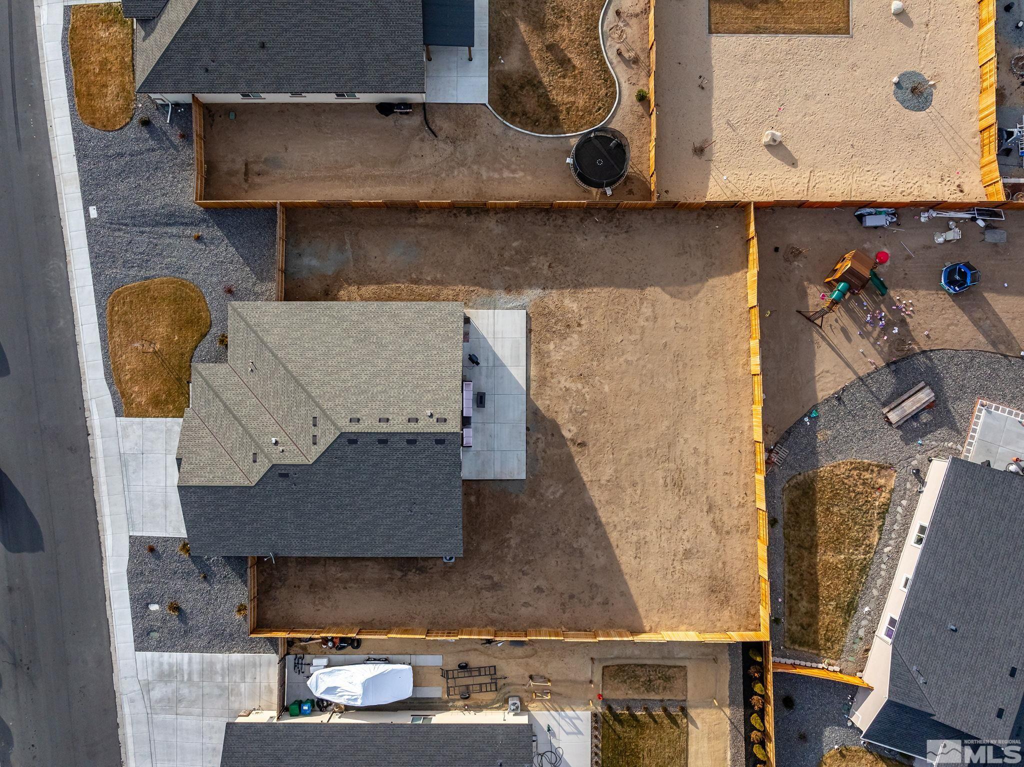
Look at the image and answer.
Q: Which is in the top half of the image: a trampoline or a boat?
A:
trampoline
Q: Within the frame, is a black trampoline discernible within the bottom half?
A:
No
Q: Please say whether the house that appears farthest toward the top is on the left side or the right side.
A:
left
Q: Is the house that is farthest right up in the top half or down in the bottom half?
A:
bottom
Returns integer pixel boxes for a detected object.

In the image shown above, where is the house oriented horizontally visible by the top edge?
[121,0,426,123]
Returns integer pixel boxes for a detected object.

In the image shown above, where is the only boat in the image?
[305,662,413,707]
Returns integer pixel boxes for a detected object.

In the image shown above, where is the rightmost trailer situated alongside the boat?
[441,663,509,698]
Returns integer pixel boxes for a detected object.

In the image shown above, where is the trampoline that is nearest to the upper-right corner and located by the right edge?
[939,262,983,296]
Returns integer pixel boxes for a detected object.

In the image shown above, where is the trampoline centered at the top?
[566,125,632,196]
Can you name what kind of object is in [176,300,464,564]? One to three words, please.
house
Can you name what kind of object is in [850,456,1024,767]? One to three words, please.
house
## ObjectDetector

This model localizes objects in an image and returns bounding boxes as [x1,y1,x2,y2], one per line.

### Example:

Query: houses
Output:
[176,300,464,564]
[850,456,1024,767]
[219,709,535,767]
[121,0,426,123]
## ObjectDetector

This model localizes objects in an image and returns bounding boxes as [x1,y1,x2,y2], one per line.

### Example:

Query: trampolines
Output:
[939,262,983,296]
[566,125,632,196]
